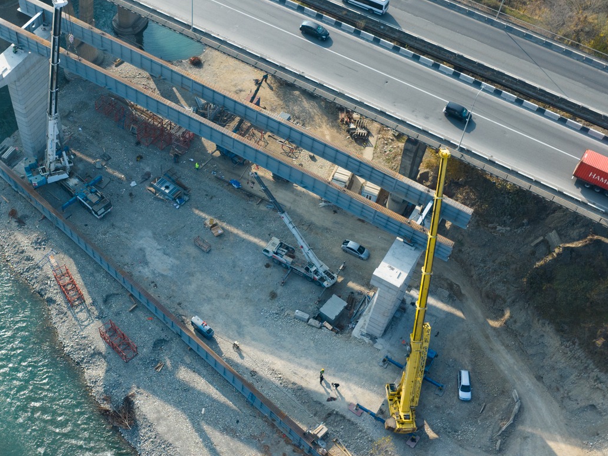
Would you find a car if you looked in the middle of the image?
Yes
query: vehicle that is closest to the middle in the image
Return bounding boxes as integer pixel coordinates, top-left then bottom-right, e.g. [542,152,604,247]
[341,239,370,261]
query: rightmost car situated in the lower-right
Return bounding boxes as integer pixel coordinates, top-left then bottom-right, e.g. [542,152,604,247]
[457,368,476,400]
